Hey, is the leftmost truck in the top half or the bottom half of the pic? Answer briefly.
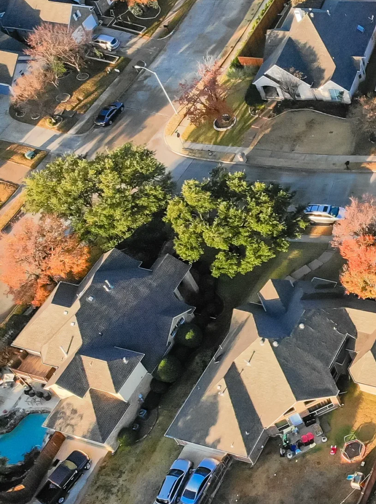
bottom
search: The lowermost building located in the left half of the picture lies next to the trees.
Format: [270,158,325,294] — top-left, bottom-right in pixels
[12,247,225,456]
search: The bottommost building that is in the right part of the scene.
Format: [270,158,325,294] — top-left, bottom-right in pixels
[146,273,376,467]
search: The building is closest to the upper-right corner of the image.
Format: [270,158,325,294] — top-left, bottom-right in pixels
[249,0,376,107]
